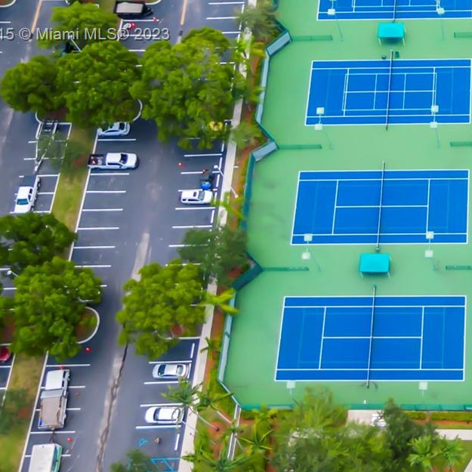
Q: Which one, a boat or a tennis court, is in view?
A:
tennis court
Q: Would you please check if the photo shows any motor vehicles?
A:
Yes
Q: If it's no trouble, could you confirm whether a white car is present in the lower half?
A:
Yes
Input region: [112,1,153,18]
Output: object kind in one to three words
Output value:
vehicle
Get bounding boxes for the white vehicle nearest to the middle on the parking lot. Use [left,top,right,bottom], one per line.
[178,189,214,205]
